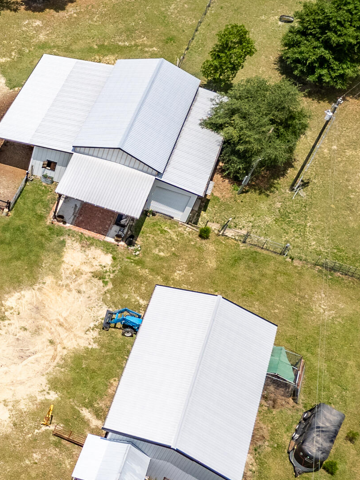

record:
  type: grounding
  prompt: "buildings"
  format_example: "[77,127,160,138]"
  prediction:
[0,55,224,245]
[101,284,278,480]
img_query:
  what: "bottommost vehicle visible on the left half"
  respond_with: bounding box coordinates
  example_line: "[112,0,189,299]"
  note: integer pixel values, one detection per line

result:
[98,313,143,342]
